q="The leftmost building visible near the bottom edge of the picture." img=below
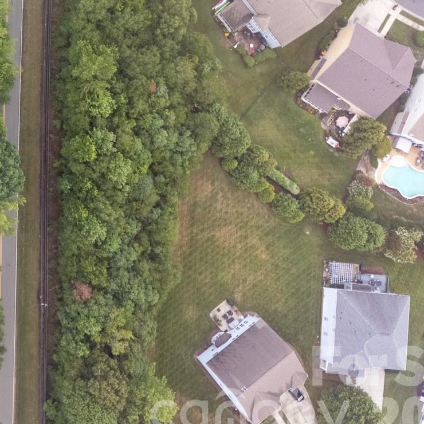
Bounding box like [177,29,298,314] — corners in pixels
[199,315,308,424]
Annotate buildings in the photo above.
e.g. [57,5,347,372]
[217,0,343,48]
[315,281,410,375]
[199,315,308,424]
[387,73,424,152]
[297,22,417,120]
